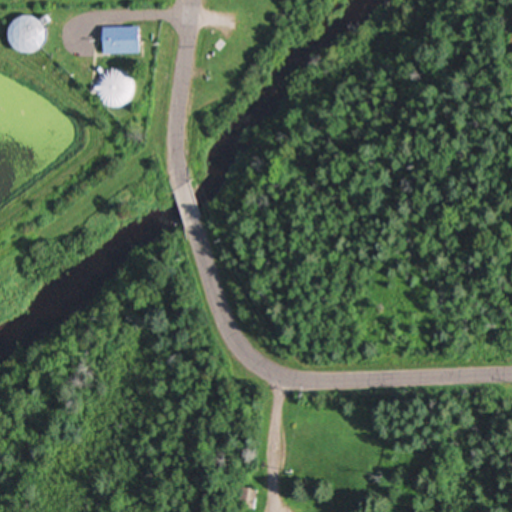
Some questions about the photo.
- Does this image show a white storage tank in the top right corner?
No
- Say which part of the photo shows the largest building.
top left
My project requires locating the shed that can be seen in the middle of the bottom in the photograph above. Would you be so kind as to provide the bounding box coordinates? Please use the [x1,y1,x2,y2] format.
[240,488,256,510]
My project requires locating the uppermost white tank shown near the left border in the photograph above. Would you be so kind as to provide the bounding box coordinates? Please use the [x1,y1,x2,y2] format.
[6,14,50,53]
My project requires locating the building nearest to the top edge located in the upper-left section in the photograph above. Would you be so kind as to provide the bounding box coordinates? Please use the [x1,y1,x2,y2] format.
[100,24,142,53]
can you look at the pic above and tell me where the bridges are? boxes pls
[174,181,204,240]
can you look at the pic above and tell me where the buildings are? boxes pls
[100,24,142,53]
[240,488,256,510]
